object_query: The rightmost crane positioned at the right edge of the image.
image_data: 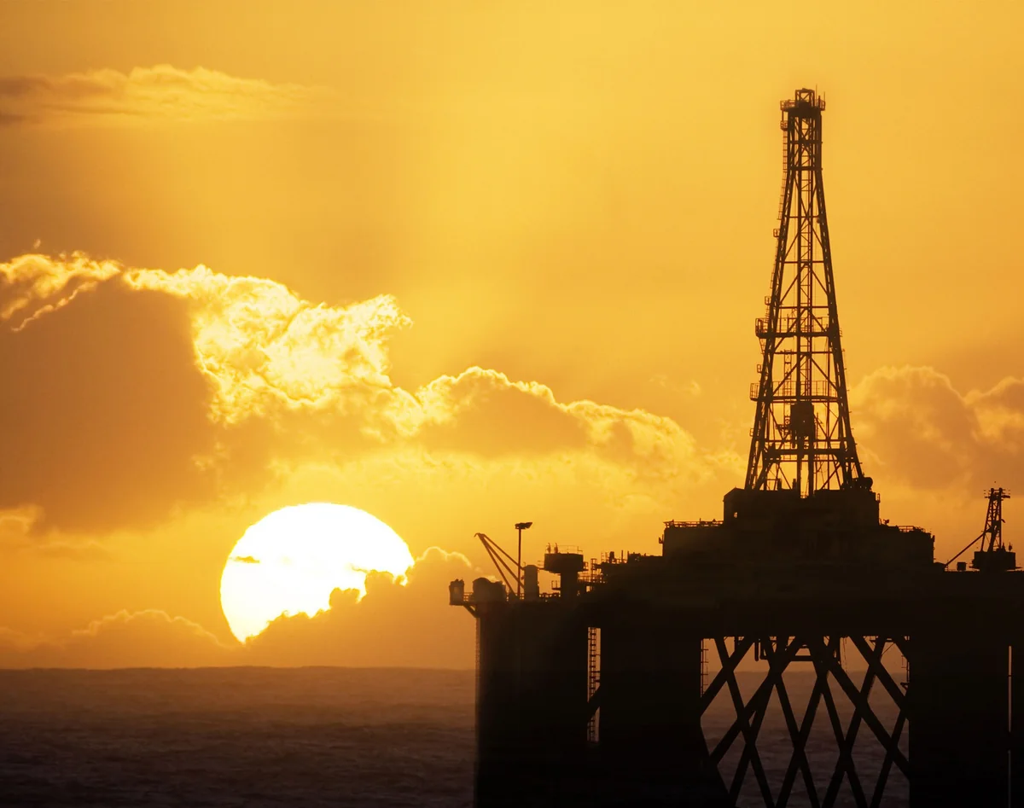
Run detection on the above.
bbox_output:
[944,488,1017,571]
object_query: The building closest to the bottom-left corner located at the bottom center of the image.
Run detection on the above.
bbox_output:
[450,579,464,602]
